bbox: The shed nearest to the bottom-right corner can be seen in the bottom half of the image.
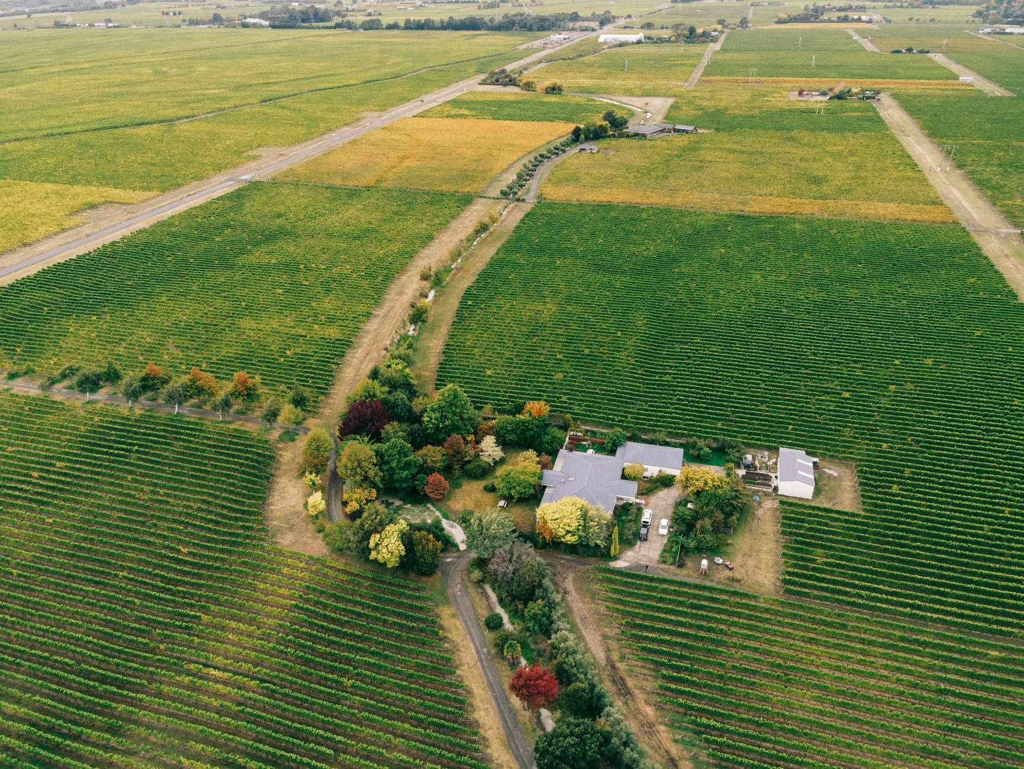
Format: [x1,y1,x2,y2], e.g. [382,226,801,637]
[778,444,816,498]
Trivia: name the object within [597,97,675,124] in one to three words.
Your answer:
building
